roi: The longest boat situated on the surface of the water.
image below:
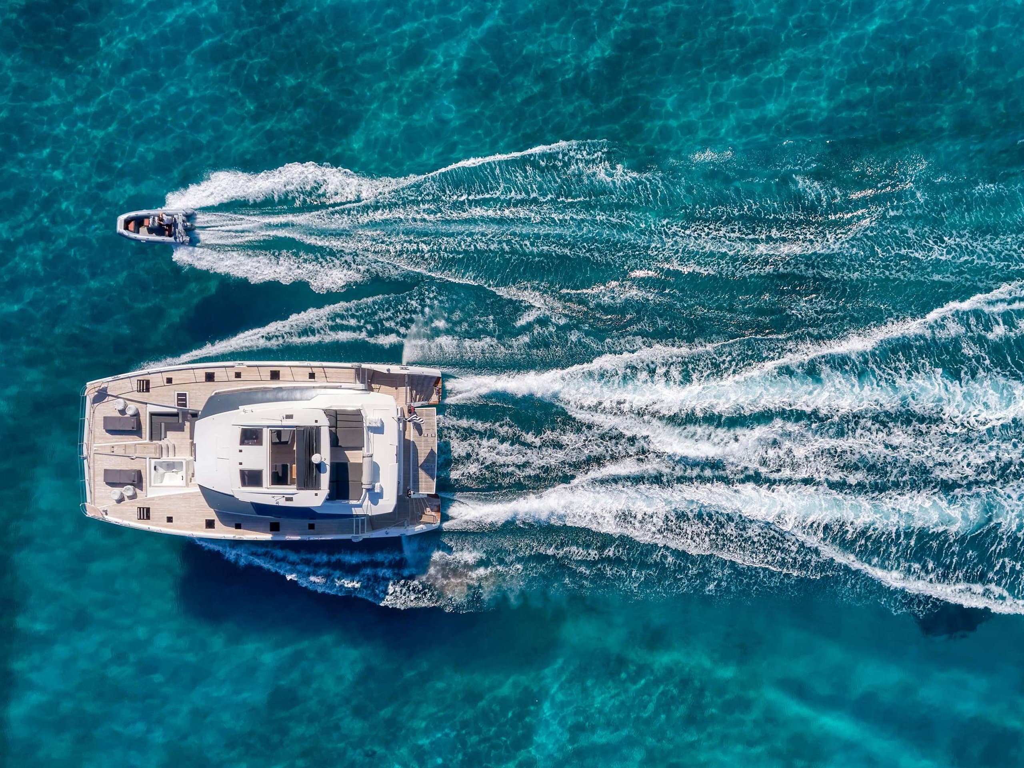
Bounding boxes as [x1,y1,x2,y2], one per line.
[78,361,444,541]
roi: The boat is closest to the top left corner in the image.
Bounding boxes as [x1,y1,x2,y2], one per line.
[116,208,197,245]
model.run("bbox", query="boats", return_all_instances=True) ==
[78,361,444,541]
[116,208,197,245]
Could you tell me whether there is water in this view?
Yes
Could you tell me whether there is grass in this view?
No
